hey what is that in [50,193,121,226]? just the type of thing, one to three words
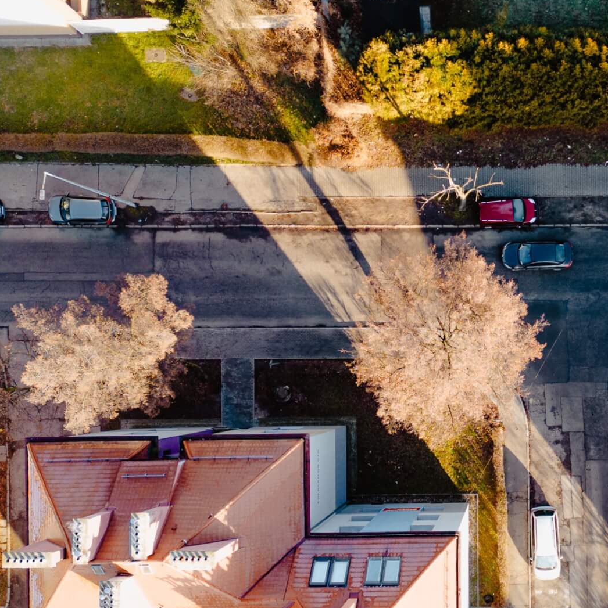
car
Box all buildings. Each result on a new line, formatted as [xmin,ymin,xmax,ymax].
[0,0,90,35]
[3,427,470,608]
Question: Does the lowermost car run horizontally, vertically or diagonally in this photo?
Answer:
vertically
